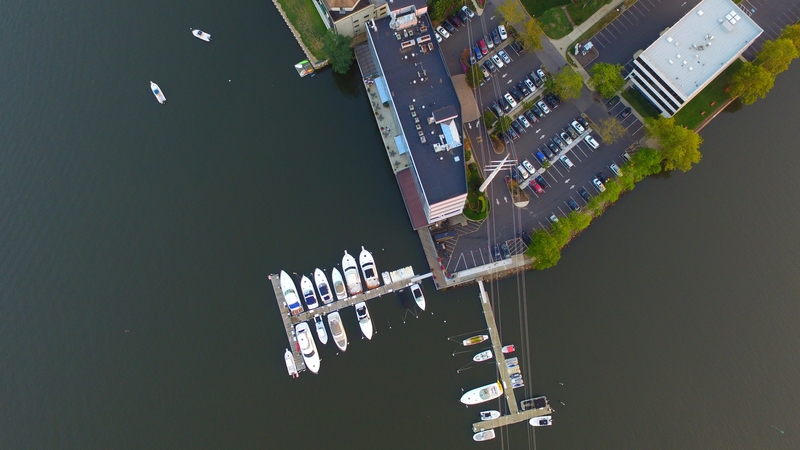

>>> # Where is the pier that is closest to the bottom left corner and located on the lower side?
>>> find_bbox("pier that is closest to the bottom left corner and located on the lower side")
[269,274,425,371]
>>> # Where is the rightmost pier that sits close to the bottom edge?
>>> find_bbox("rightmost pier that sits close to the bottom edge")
[473,291,553,433]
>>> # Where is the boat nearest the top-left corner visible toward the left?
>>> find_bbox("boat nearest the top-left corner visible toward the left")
[150,81,167,104]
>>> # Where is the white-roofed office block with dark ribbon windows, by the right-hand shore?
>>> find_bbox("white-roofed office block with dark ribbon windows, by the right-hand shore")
[620,0,763,116]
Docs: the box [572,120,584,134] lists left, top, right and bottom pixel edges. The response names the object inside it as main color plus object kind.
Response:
white vehicle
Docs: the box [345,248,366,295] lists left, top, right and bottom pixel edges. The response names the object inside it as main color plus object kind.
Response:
white boat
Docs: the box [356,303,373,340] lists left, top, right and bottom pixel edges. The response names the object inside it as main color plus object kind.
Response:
white boat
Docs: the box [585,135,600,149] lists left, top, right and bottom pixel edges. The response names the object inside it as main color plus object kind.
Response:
white car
